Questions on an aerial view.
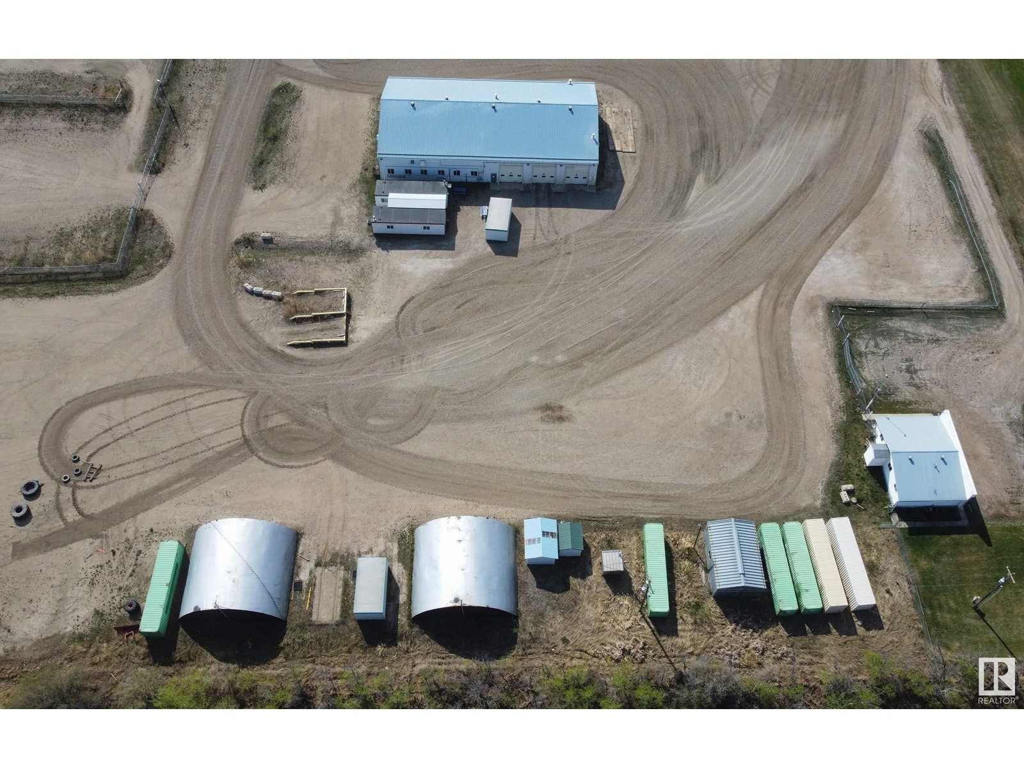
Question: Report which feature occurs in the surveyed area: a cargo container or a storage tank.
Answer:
cargo container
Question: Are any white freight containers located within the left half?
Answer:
No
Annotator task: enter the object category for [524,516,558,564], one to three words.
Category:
shed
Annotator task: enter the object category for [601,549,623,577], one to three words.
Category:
shed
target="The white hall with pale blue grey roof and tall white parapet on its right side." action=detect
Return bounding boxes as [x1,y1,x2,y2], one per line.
[855,406,976,512]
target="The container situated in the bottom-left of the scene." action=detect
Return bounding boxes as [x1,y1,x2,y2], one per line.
[139,540,183,637]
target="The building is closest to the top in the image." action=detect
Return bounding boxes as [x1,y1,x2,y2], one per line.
[376,76,599,188]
